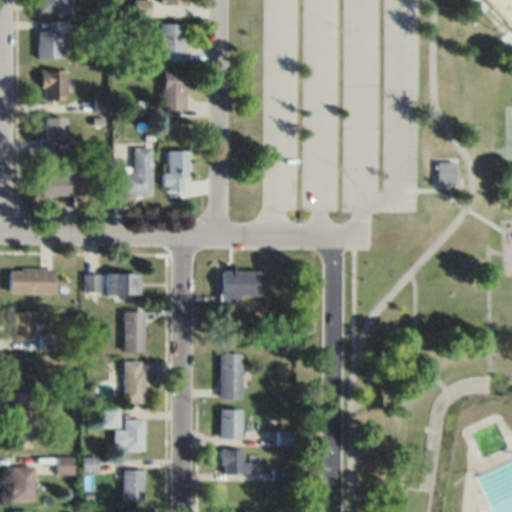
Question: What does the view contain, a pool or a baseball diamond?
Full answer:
This aerial view contains a pool.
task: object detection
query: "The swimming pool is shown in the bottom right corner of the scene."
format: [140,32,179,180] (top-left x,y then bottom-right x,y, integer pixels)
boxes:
[464,414,512,512]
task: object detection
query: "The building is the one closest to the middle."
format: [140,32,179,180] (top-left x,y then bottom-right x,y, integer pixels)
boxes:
[221,270,265,302]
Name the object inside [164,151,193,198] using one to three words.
house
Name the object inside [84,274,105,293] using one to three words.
building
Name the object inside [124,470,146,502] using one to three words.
house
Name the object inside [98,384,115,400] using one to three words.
swimming pool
